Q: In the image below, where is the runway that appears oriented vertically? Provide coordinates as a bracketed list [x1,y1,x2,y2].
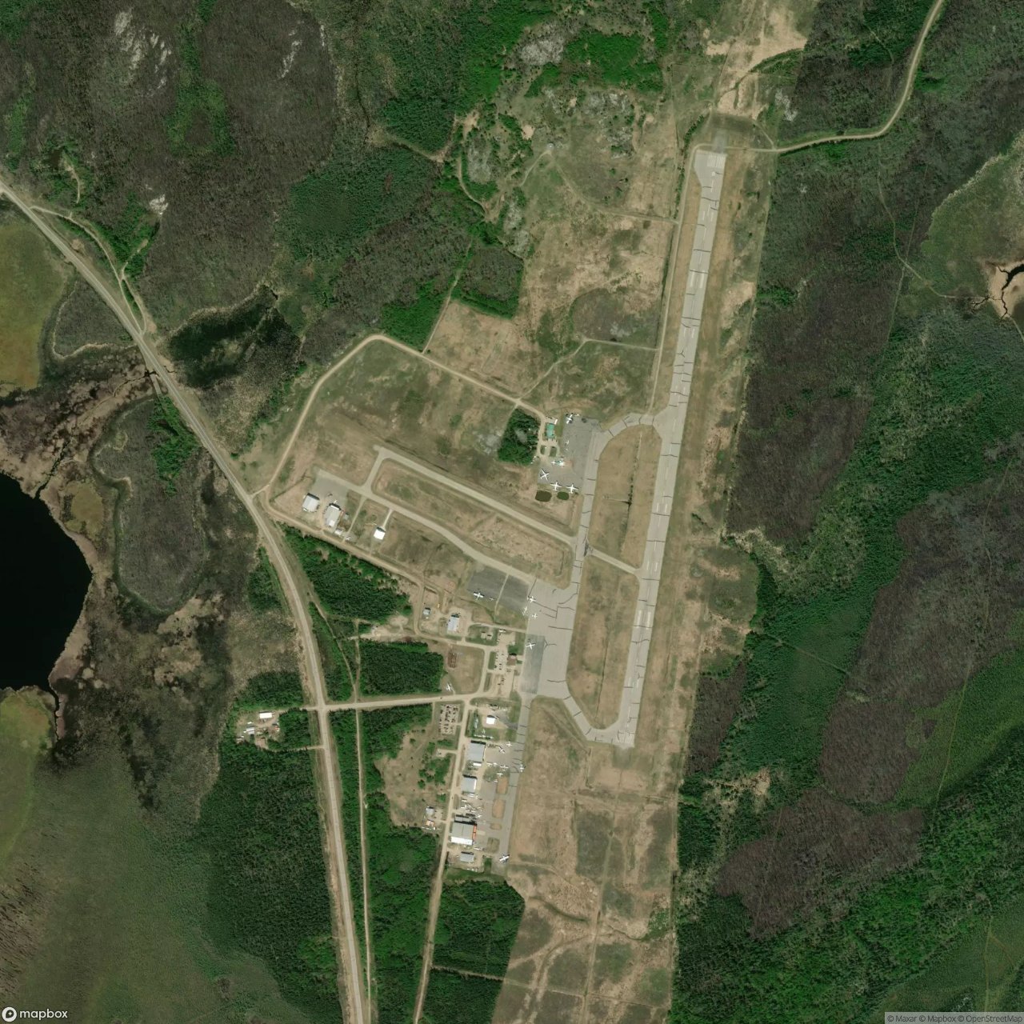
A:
[615,150,727,750]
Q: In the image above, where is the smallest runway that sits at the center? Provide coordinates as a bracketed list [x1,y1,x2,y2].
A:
[374,445,635,573]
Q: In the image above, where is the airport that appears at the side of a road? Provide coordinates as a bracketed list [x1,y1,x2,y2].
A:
[308,131,727,877]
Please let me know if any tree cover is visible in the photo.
Yes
